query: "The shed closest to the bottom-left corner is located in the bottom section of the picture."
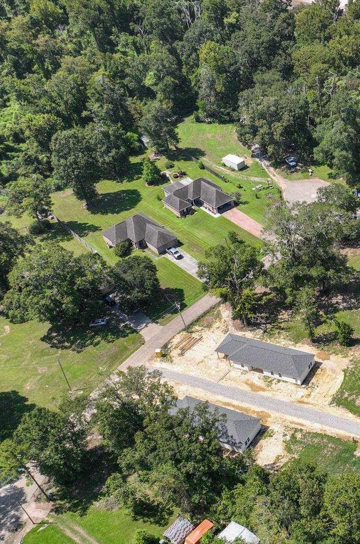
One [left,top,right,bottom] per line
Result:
[164,519,194,544]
